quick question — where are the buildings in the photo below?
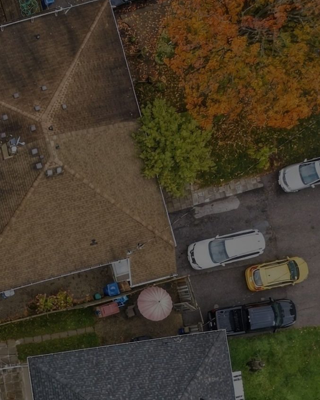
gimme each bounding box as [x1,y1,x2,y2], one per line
[0,0,177,294]
[17,327,246,400]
